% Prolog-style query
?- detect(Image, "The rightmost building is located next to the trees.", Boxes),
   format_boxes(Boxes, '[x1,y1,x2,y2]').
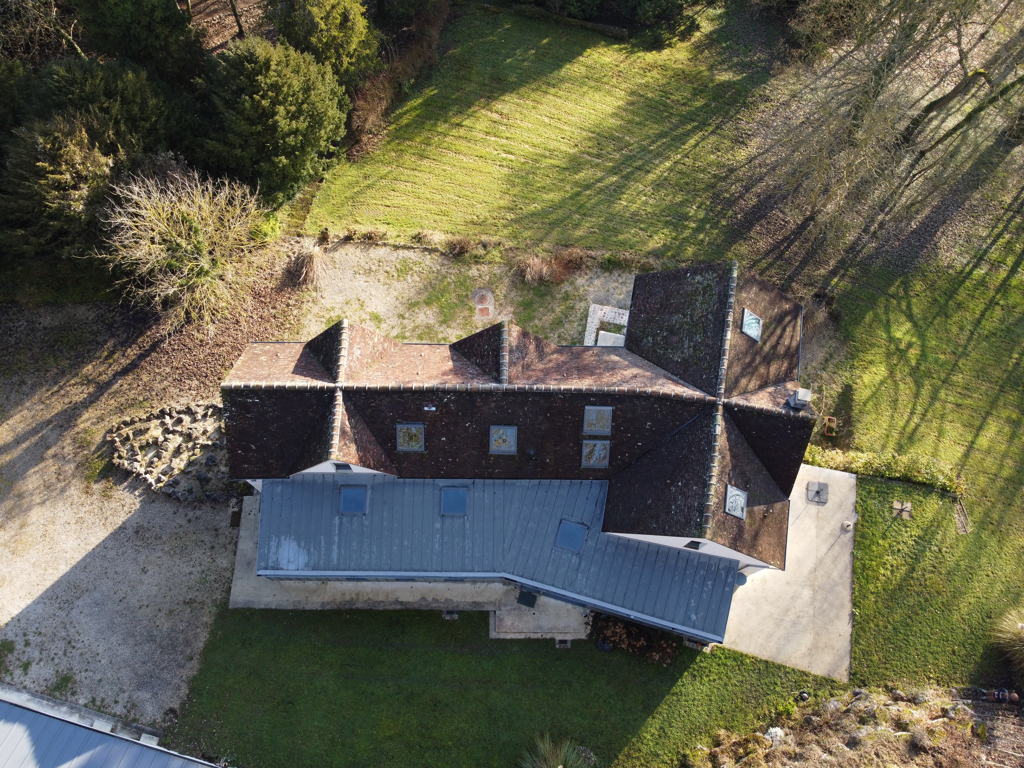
[219,259,818,646]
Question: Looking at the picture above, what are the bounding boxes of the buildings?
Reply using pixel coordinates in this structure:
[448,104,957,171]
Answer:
[219,259,818,646]
[0,694,245,768]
